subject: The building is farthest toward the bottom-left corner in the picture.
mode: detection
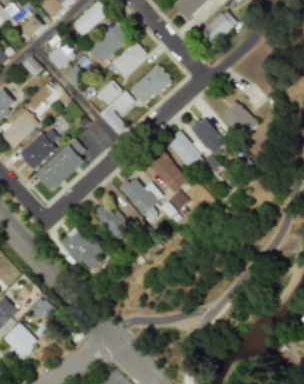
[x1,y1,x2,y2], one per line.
[4,324,36,356]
